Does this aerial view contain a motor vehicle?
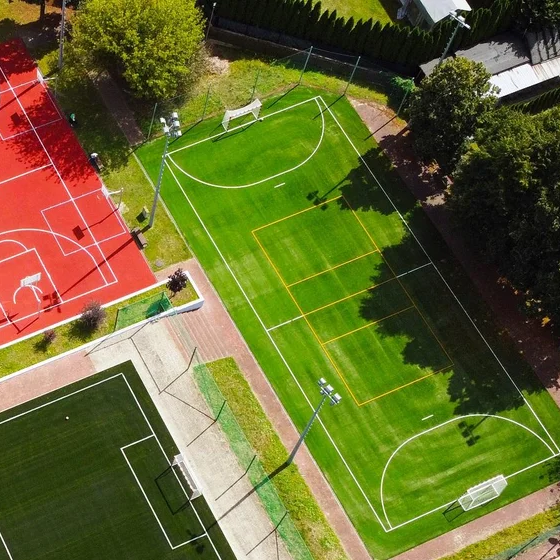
No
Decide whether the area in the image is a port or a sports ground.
sports ground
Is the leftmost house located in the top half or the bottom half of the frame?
top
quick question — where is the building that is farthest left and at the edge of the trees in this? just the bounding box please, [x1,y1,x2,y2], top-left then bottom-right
[389,0,472,47]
